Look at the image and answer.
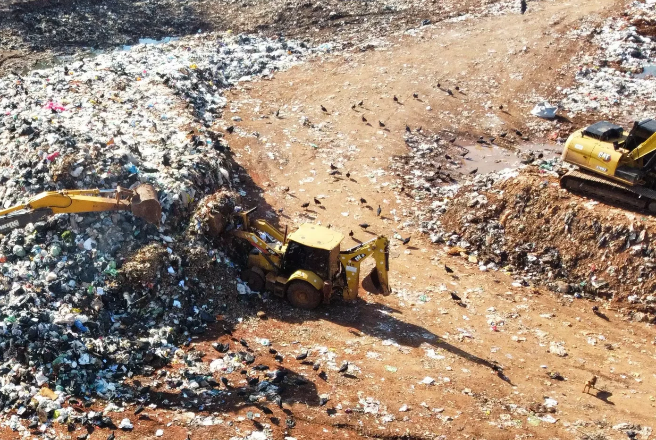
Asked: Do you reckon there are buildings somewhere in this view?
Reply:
No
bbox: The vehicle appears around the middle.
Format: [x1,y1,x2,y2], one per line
[215,203,398,320]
